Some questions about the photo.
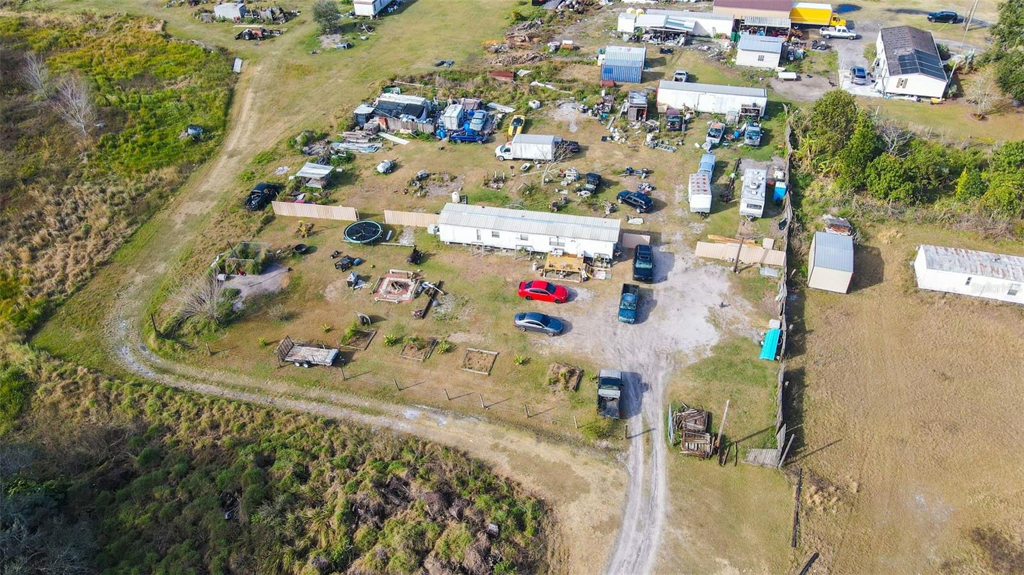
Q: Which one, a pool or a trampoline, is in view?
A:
trampoline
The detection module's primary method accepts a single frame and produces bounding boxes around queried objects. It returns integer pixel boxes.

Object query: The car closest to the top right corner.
[926,8,961,24]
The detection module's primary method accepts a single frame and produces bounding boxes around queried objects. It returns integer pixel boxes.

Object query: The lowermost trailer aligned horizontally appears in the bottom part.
[270,329,349,364]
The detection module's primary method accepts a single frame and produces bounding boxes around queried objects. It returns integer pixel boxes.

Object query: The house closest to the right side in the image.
[913,241,1024,304]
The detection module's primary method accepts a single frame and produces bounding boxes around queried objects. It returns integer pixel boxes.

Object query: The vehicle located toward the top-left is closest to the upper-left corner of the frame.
[233,23,264,38]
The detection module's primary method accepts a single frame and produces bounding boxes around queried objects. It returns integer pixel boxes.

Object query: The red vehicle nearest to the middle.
[520,278,572,302]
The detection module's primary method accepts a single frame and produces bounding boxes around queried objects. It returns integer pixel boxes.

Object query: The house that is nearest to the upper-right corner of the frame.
[869,25,953,100]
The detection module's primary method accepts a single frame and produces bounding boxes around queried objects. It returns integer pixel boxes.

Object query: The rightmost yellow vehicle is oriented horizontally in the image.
[788,0,848,25]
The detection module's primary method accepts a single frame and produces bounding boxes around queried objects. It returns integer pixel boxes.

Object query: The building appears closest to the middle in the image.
[438,202,621,261]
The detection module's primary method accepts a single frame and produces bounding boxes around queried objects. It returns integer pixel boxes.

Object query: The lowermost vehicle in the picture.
[597,369,624,423]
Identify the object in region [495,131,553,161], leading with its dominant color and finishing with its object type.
white van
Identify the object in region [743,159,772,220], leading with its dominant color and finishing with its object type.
white camper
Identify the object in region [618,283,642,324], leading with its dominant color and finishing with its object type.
blue vehicle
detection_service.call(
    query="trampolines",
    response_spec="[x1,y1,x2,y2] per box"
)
[343,221,382,248]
